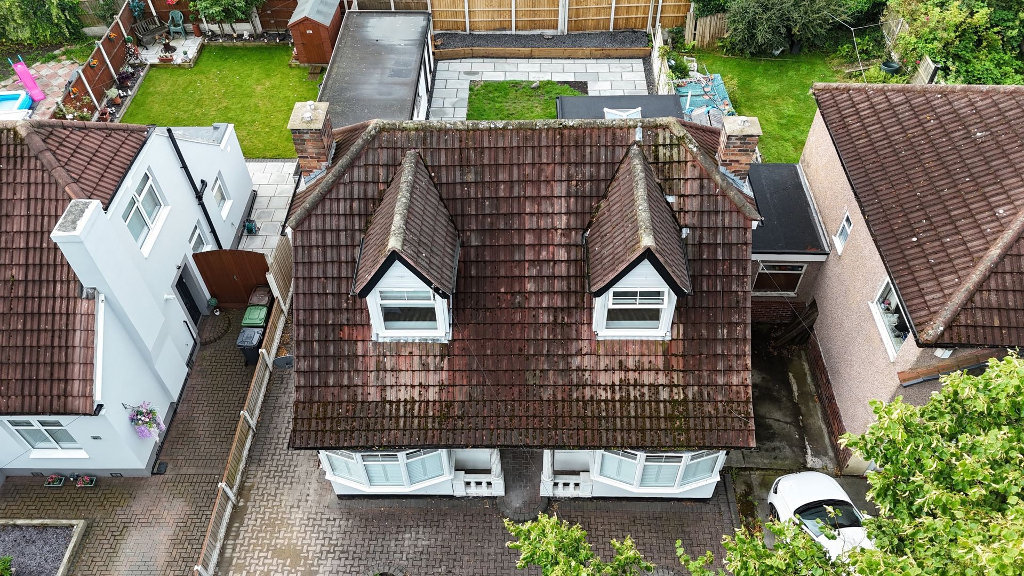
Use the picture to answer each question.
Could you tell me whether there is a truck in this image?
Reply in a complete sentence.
No, no truck is visible in the scene.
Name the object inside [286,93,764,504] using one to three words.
house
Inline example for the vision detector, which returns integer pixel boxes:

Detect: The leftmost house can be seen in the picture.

[0,115,254,475]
